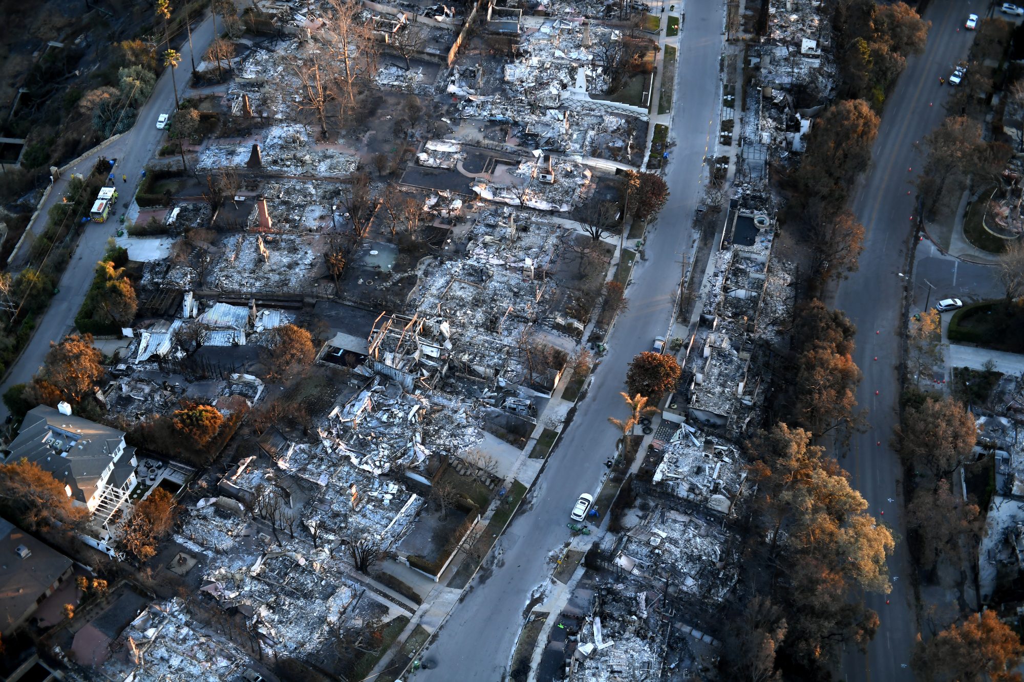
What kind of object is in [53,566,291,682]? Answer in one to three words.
house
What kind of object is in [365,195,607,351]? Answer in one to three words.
house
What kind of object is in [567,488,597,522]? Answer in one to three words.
car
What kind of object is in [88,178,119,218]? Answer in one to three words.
truck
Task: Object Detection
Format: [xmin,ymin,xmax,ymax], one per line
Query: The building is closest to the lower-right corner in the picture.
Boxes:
[974,504,1024,591]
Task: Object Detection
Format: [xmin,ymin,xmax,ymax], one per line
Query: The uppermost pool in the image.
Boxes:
[486,19,522,32]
